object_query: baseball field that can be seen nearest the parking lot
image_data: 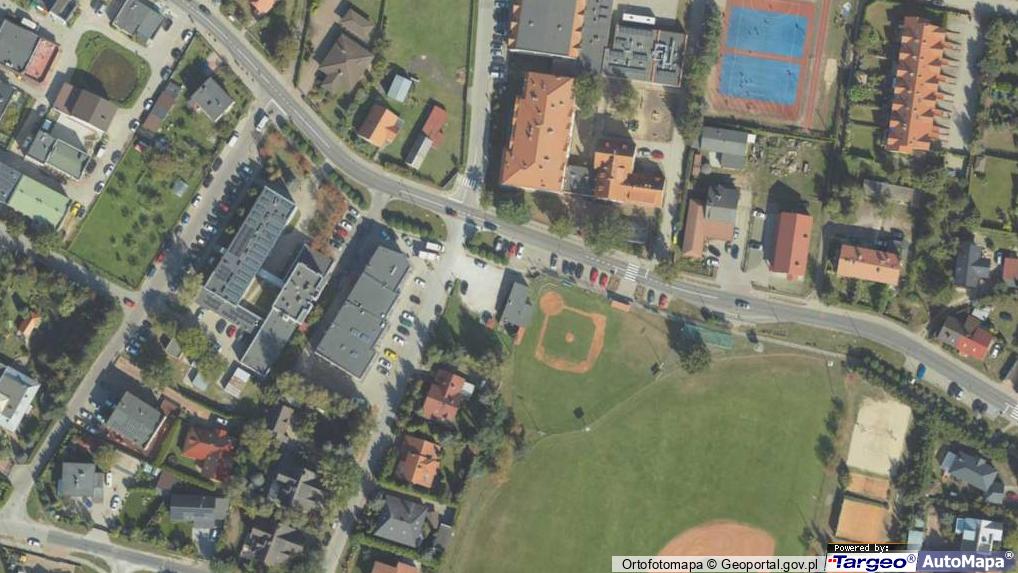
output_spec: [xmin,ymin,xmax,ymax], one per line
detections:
[501,285,845,468]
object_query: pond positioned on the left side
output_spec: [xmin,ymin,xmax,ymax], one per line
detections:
[91,49,138,98]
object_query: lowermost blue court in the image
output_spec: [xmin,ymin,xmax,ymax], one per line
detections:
[720,54,800,104]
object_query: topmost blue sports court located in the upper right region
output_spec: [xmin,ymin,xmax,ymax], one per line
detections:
[728,7,808,57]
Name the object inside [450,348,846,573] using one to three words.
baseball field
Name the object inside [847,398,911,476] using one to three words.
sports court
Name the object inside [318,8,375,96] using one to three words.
house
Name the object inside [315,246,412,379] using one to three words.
building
